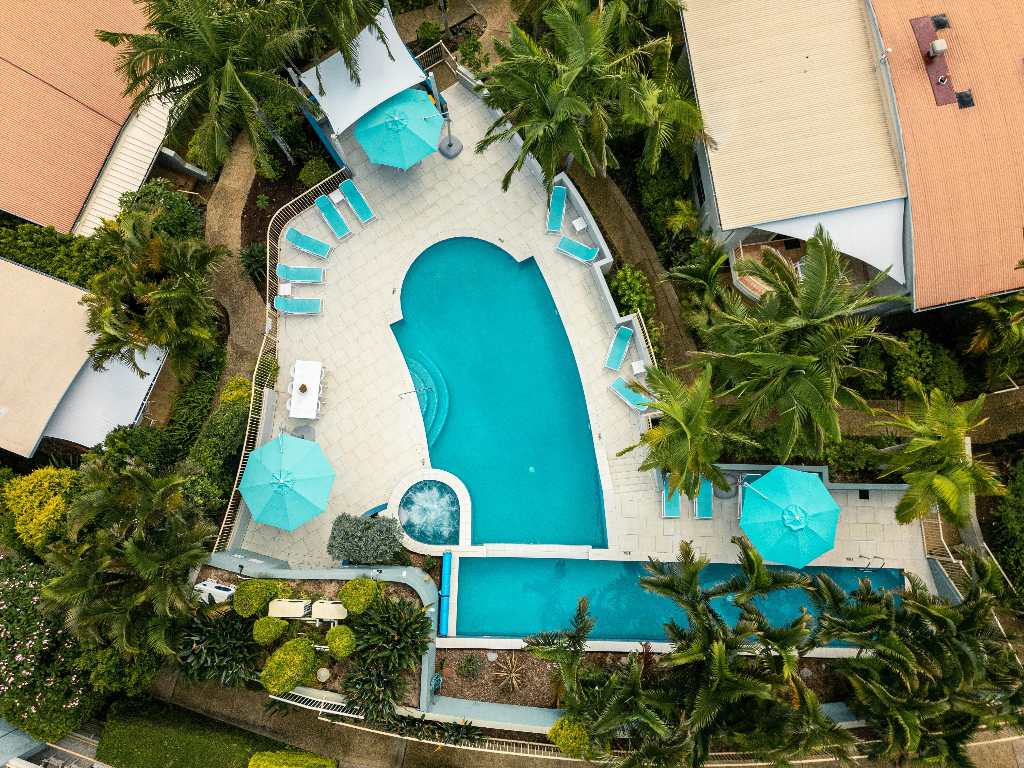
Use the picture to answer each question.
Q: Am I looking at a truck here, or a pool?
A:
pool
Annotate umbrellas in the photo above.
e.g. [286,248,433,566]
[238,423,336,532]
[356,89,464,169]
[714,466,841,569]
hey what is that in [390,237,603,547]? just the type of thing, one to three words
swimming pool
